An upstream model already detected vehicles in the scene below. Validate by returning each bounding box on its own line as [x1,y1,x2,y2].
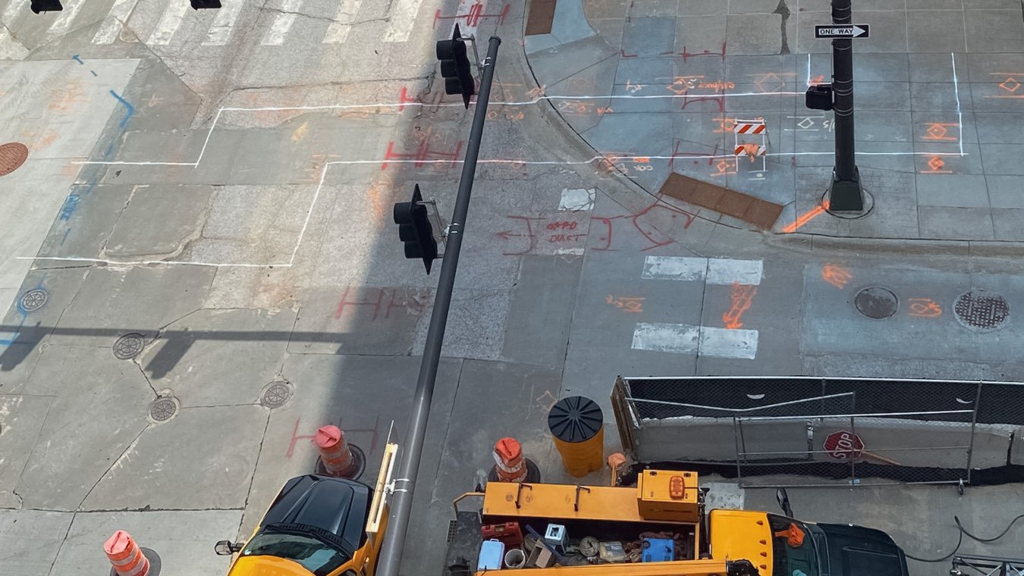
[435,471,921,576]
[214,468,395,576]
